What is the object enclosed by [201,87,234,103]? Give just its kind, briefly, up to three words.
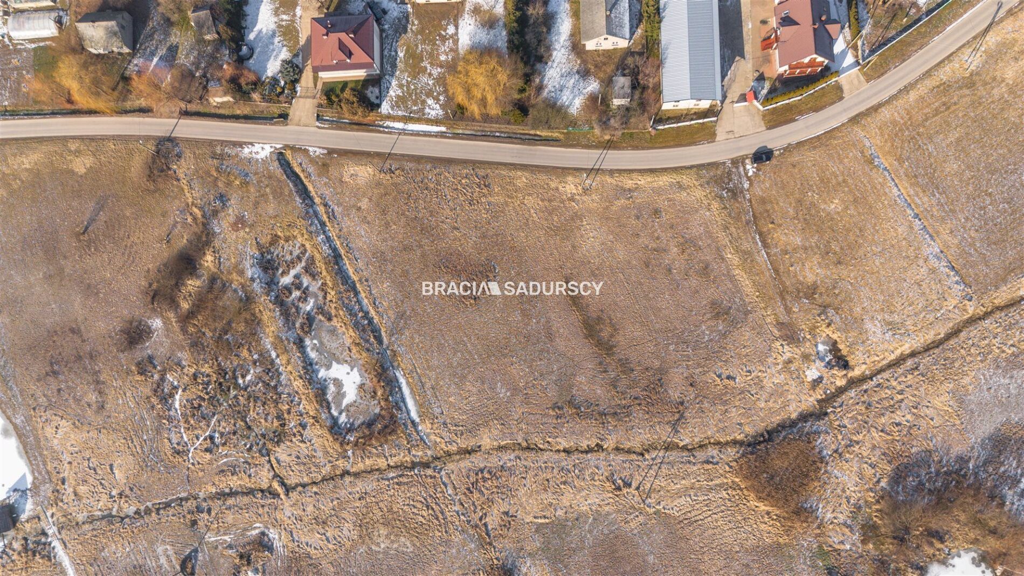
shed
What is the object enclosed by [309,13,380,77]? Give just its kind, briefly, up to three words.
house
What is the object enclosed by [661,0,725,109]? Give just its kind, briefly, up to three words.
barn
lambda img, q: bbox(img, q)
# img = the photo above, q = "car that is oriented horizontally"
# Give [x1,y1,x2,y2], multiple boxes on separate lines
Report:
[752,150,775,163]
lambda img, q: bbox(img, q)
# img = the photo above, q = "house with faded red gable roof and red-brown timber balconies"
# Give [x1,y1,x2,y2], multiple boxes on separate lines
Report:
[757,0,841,81]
